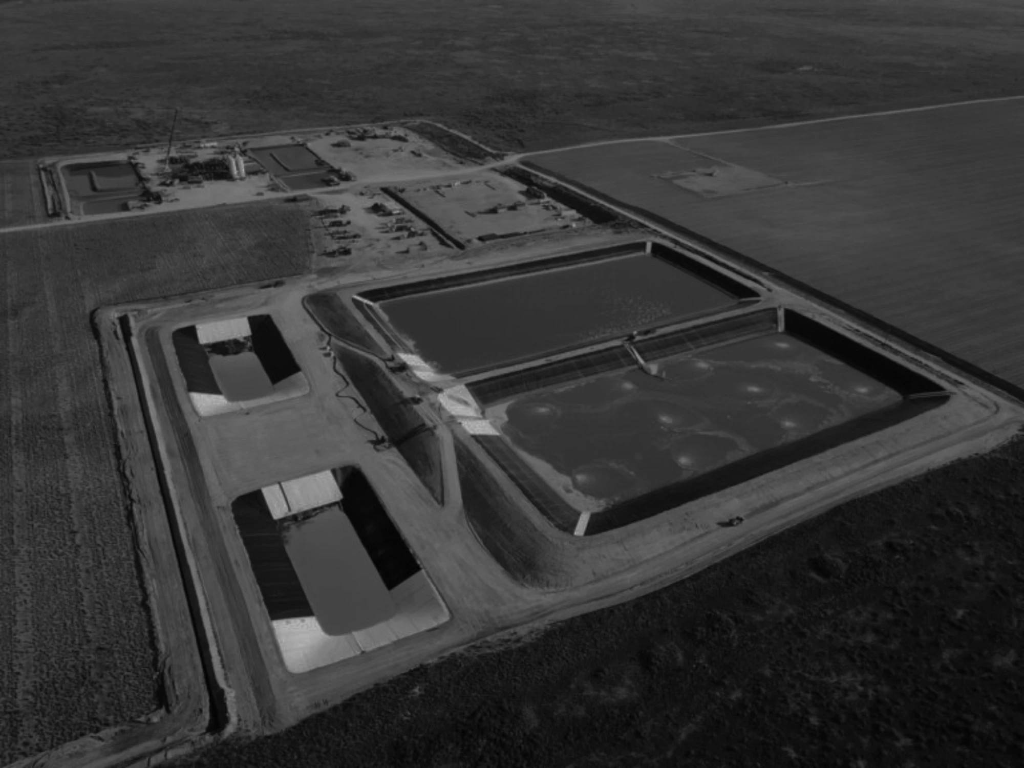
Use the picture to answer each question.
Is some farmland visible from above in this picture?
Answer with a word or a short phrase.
Yes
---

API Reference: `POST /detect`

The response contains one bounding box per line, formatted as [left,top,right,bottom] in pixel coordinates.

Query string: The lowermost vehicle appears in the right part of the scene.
[730,514,744,528]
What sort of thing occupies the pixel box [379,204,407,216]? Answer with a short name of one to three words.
vehicle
